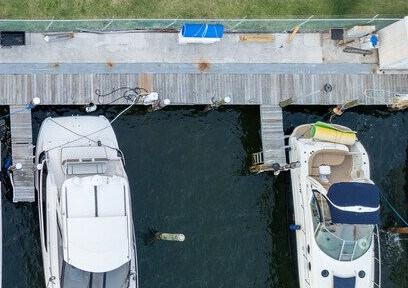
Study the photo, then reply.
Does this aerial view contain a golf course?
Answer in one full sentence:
No, there isn't any golf course down there.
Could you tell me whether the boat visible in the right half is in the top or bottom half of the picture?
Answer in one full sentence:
The boat visible in the right half sits in the bottom half of the picture.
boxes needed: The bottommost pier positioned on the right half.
[248,105,286,170]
